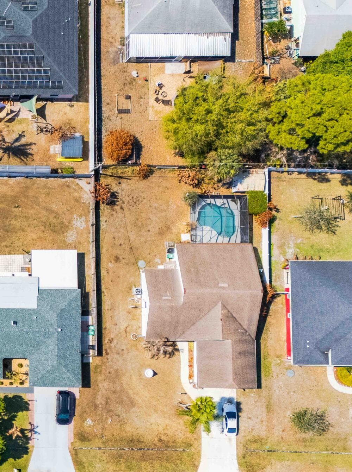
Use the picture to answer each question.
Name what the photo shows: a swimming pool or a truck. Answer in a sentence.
Looking from above, you can make out a swimming pool.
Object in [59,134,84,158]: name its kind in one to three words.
shed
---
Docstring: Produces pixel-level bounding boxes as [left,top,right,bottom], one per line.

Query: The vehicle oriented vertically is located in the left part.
[56,389,72,424]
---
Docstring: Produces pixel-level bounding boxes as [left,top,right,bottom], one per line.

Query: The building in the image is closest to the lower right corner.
[285,260,352,367]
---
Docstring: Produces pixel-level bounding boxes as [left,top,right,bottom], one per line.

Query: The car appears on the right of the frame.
[222,403,239,437]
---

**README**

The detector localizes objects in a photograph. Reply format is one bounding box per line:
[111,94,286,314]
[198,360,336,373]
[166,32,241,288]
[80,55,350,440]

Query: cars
[56,389,72,424]
[222,403,239,437]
